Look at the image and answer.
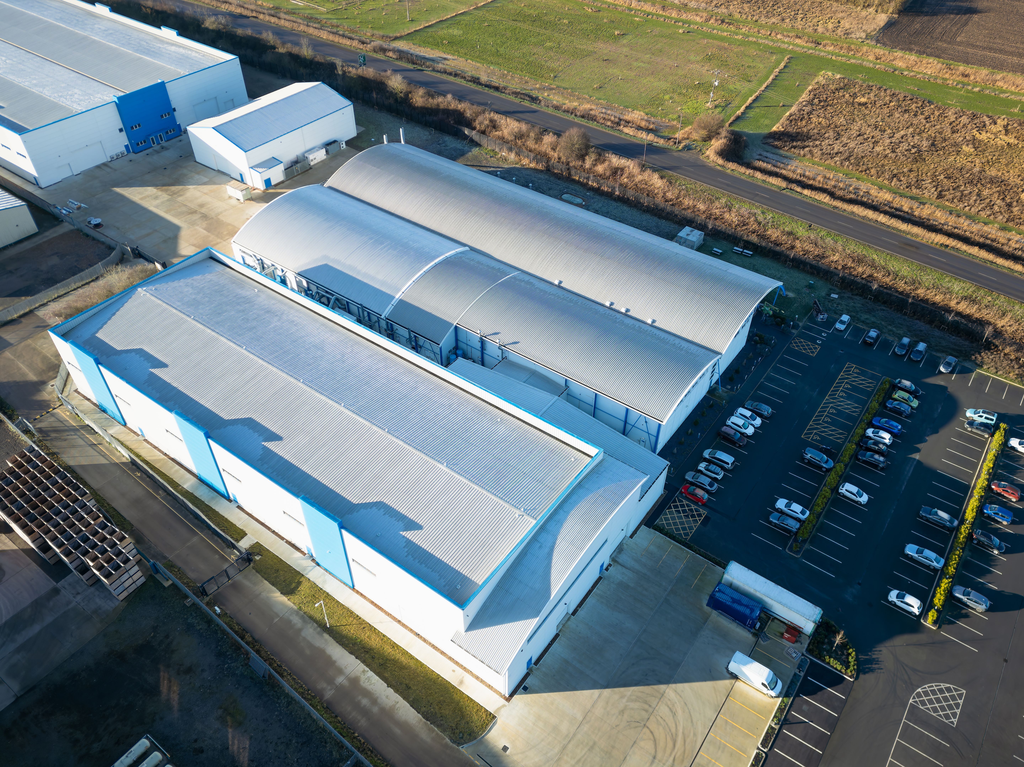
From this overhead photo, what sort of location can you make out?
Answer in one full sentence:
What you see here is an industrial area.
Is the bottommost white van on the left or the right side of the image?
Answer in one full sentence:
The bottommost white van appears in the right half of the scene.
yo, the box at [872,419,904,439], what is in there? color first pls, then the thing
blue car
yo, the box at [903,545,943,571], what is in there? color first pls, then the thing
blue car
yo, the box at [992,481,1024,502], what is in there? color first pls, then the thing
red car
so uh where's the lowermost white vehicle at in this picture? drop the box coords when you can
[723,648,784,700]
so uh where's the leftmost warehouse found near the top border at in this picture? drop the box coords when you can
[0,0,249,188]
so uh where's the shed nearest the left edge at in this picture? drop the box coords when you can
[0,188,38,248]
